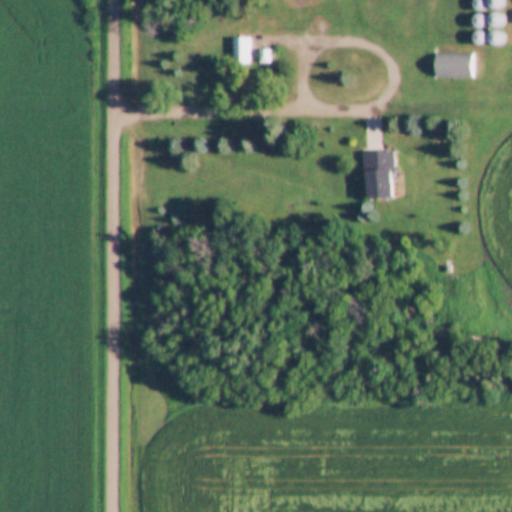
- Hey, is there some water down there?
No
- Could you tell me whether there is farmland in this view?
Yes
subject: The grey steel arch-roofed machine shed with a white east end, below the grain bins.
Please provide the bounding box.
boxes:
[435,51,476,82]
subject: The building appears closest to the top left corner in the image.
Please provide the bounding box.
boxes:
[234,36,252,65]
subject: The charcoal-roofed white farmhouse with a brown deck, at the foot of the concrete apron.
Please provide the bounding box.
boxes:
[364,152,407,199]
